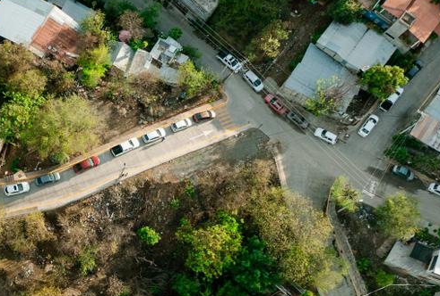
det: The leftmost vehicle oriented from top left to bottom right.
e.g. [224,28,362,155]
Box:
[214,49,242,71]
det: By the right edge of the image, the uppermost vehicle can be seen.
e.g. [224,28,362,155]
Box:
[401,56,425,82]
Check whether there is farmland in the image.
No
